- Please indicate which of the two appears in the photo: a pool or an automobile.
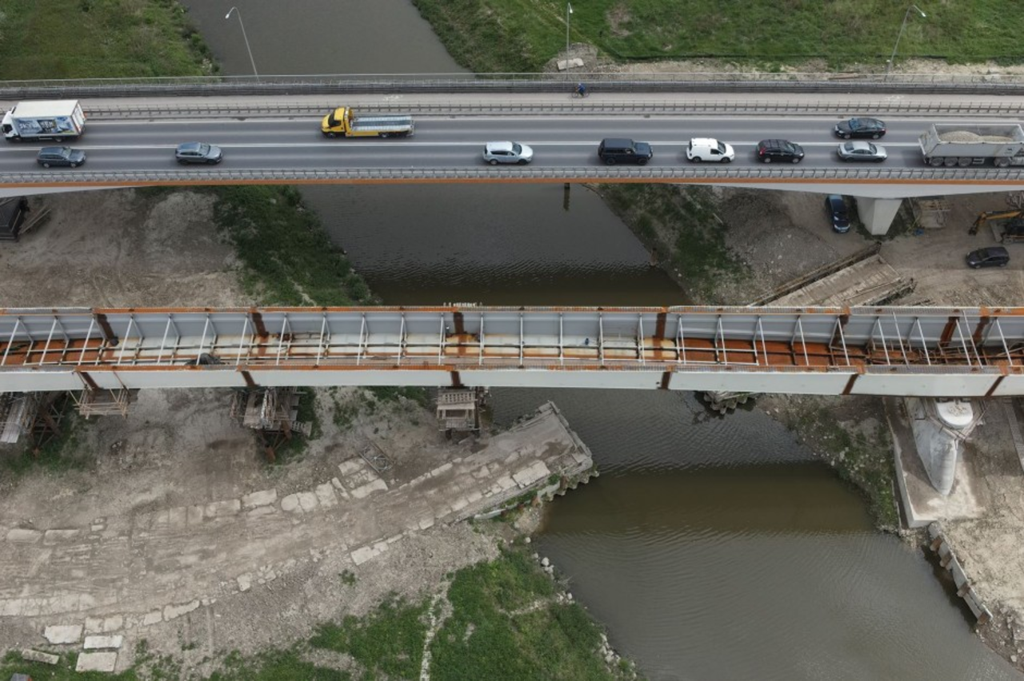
automobile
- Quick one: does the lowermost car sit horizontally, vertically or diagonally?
horizontally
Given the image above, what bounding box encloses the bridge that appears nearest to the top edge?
[0,91,1024,234]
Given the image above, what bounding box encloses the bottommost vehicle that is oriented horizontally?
[966,245,1016,268]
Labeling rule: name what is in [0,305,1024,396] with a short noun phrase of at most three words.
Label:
bridge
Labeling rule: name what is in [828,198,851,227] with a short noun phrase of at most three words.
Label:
car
